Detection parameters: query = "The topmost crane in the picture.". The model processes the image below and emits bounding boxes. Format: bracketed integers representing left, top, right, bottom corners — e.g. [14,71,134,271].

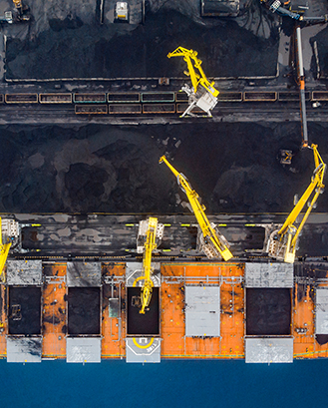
[164,45,224,119]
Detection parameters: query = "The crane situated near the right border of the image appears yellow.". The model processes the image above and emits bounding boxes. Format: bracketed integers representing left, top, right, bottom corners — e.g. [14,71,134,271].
[247,144,327,262]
